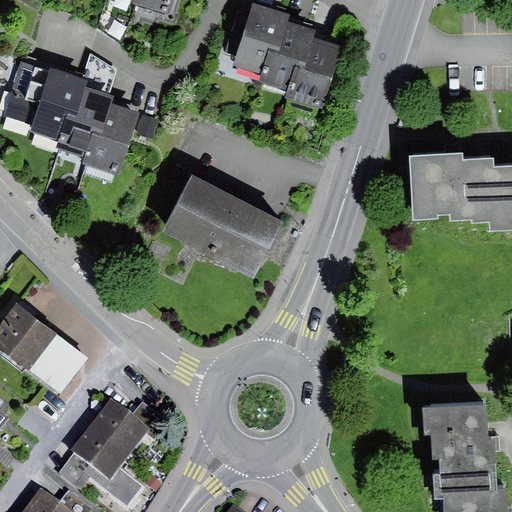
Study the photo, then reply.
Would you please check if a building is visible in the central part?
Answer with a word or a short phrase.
Yes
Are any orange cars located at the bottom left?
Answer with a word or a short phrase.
No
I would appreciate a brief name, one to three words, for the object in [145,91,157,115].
vehicle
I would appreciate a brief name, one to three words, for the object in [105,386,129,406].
vehicle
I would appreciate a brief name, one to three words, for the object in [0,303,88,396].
house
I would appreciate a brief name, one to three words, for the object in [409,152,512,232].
building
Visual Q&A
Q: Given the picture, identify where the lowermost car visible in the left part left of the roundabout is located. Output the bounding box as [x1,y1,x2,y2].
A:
[46,449,66,470]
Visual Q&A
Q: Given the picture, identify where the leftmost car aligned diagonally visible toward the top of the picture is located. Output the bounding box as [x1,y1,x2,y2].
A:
[196,152,213,174]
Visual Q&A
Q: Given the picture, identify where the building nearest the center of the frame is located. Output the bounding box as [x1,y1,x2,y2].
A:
[164,174,282,280]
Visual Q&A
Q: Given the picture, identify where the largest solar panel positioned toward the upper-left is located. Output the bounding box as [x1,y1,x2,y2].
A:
[85,92,111,122]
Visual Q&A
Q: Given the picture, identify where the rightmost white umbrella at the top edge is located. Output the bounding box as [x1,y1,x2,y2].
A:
[108,19,127,40]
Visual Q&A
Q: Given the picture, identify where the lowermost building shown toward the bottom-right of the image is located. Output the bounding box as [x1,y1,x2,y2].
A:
[422,402,508,512]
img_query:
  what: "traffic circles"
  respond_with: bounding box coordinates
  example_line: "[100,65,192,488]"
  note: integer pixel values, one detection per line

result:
[196,337,326,474]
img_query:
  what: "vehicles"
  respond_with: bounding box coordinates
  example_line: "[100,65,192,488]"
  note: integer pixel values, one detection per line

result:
[448,64,460,94]
[302,382,312,404]
[128,393,141,408]
[140,382,159,400]
[196,152,213,174]
[145,91,157,115]
[474,67,485,90]
[124,364,144,387]
[38,400,60,422]
[132,82,145,106]
[274,500,288,512]
[309,307,322,332]
[253,494,271,512]
[46,449,66,470]
[44,392,66,412]
[105,386,129,406]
